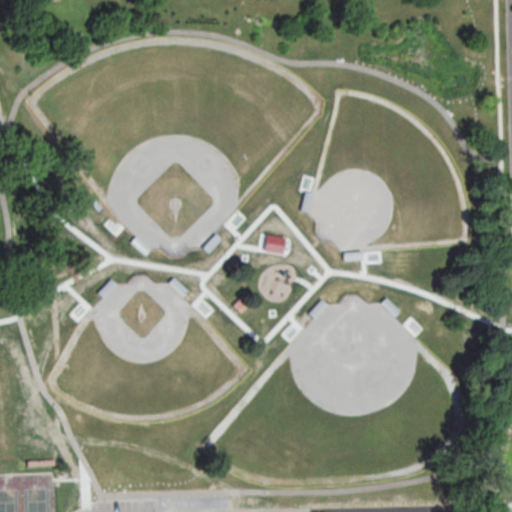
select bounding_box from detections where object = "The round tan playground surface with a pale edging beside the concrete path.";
[258,264,297,303]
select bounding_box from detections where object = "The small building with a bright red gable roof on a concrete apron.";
[264,235,285,253]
